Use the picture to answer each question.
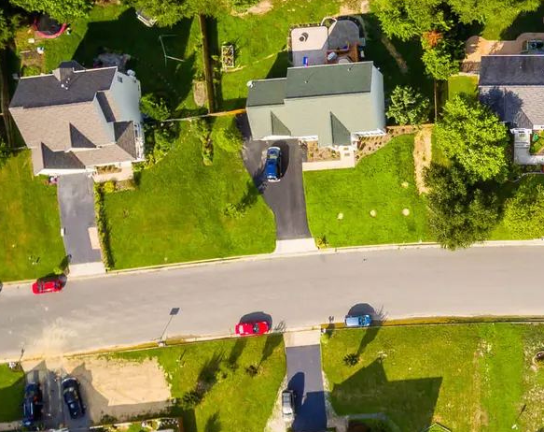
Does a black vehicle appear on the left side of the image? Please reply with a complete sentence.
Yes, the scene does show a black vehicle on the left side of the image.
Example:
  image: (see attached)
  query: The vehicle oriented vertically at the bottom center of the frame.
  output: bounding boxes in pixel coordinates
[279,388,294,420]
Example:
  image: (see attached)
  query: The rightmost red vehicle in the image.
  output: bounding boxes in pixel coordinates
[232,320,267,335]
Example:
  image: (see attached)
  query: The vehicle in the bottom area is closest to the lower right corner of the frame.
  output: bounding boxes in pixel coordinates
[342,314,371,327]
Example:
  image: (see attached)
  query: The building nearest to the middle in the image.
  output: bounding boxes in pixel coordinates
[245,62,386,155]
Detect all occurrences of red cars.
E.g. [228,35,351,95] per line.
[232,320,267,335]
[28,278,61,293]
